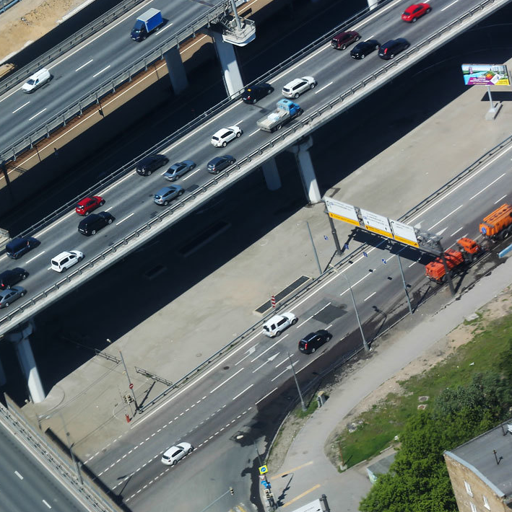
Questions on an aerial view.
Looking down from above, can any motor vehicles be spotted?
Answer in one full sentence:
Yes, a motor vehicle is visible in the scene.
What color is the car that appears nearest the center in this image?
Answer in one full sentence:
From above, the car that appears nearest the center appears white.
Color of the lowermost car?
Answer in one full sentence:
The color of the lowermost car is white.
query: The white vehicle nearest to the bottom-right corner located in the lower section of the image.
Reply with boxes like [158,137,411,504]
[262,312,297,336]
